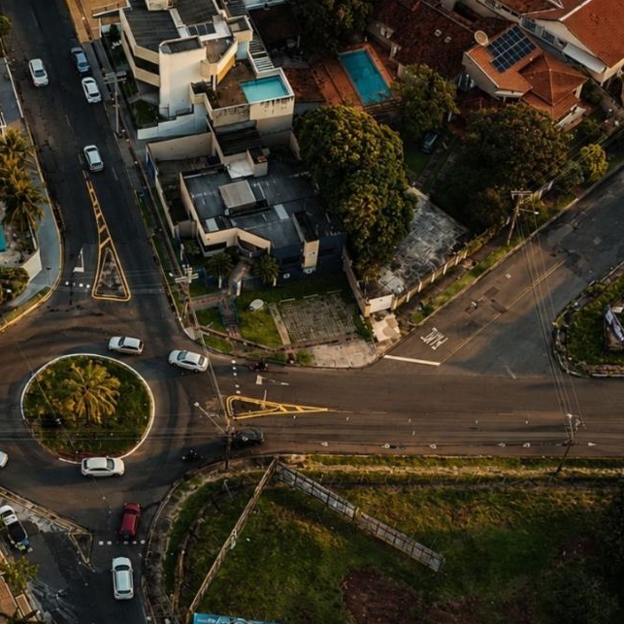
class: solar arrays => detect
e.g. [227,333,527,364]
[487,26,536,72]
[188,24,216,35]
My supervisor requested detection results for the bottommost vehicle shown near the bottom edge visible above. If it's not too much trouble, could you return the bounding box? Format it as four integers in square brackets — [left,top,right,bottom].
[110,559,133,601]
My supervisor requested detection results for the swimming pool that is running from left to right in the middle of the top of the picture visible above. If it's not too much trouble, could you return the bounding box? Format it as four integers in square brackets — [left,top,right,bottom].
[240,76,288,101]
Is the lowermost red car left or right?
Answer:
left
